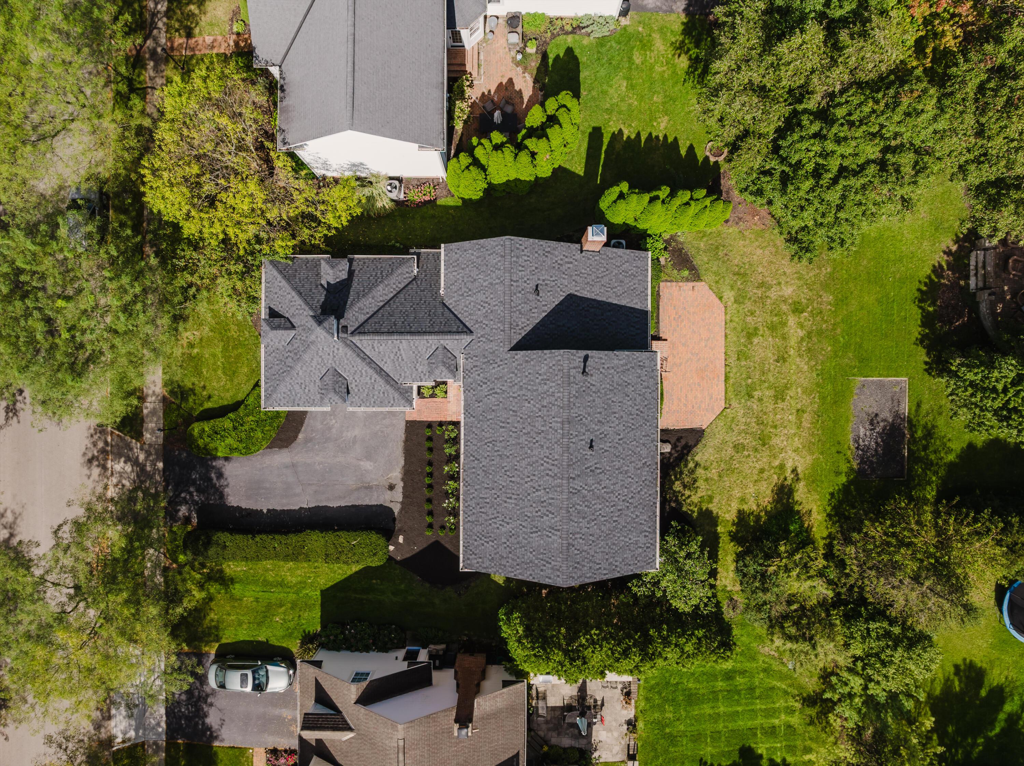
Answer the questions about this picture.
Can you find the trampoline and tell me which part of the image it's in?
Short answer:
bottom right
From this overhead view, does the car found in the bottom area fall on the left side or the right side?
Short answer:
left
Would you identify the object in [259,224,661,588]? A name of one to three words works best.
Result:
house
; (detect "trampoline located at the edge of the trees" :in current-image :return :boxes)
[991,579,1024,644]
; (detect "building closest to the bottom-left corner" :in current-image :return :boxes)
[294,644,528,766]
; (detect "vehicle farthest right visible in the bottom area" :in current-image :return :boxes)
[208,652,295,697]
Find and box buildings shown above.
[294,644,528,766]
[241,0,627,186]
[259,224,661,588]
